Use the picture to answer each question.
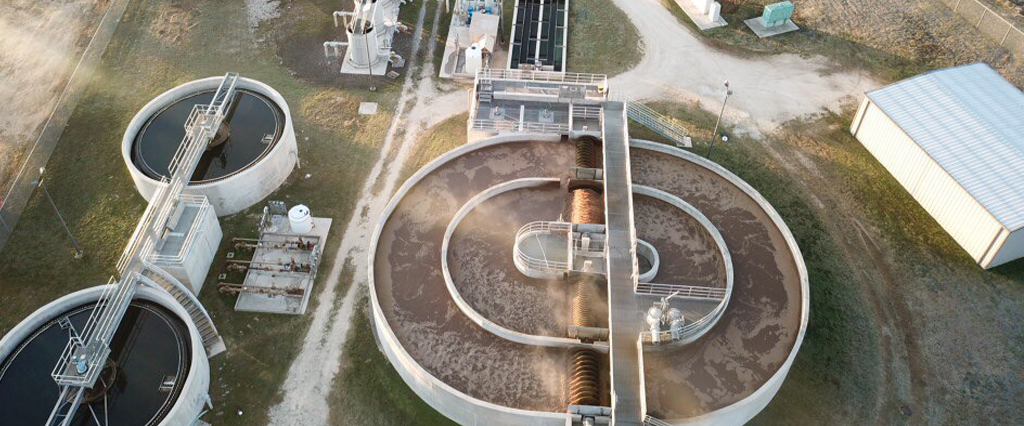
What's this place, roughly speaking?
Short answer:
industrial area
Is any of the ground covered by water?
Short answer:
Yes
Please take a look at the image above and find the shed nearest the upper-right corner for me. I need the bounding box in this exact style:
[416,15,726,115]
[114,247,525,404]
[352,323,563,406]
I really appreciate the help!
[849,57,1024,270]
